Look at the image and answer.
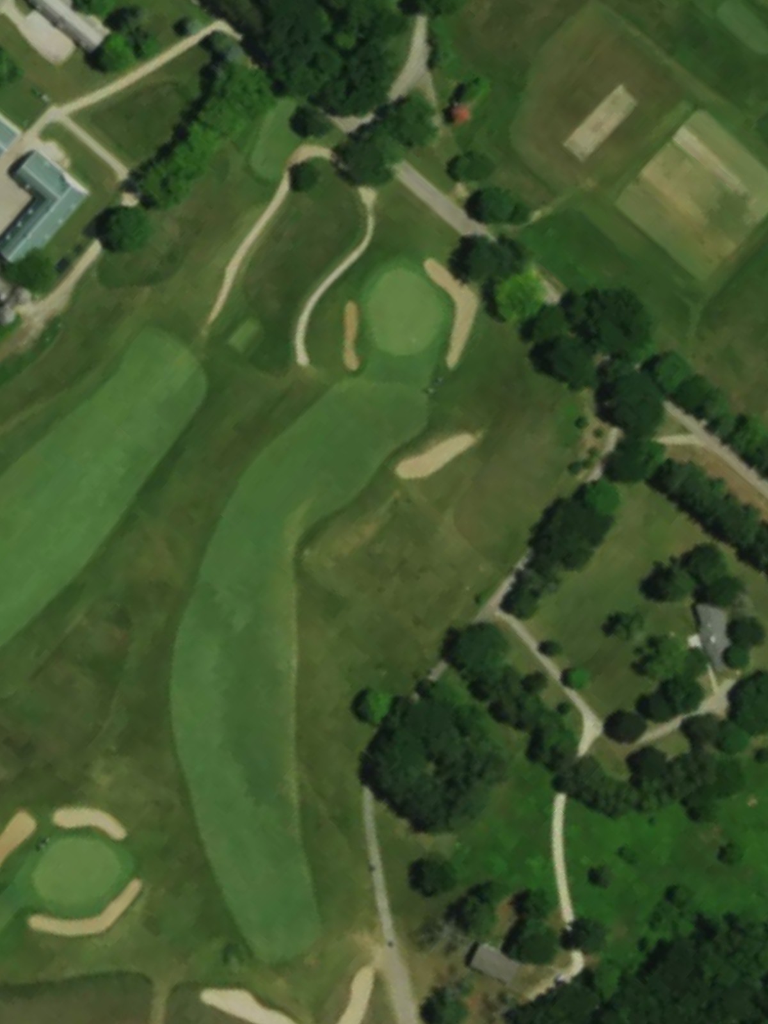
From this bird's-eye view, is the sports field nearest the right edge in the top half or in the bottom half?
top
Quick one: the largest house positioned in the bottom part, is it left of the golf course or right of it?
to its right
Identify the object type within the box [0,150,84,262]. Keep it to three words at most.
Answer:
building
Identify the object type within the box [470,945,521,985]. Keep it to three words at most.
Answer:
shed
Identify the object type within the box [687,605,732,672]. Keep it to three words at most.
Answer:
house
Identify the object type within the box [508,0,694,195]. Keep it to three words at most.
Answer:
sports field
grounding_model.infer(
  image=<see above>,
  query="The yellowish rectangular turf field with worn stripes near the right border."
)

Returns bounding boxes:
[614,107,768,282]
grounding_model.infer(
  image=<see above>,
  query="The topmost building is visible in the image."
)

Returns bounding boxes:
[23,0,106,56]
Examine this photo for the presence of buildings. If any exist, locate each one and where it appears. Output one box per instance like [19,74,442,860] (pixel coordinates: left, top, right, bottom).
[453,104,471,122]
[470,945,521,985]
[687,605,732,672]
[0,150,84,262]
[0,114,21,155]
[23,0,106,56]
